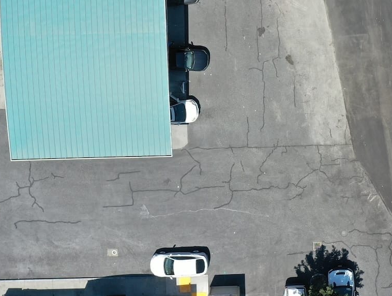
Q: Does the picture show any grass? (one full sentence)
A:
No, the picture contains no grass.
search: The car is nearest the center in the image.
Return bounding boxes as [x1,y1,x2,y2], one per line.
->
[170,92,200,126]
